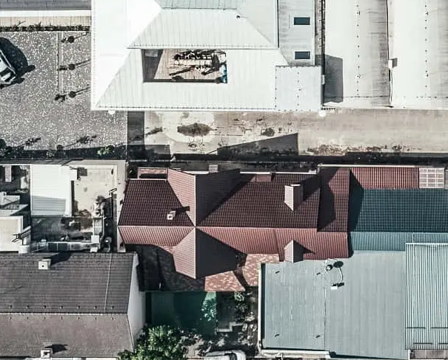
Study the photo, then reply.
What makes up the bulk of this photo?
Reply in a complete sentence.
For the most part, this view shows buildings.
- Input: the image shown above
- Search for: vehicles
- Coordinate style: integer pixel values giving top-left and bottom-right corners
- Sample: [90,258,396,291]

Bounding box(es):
[0,43,17,86]
[202,351,246,360]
